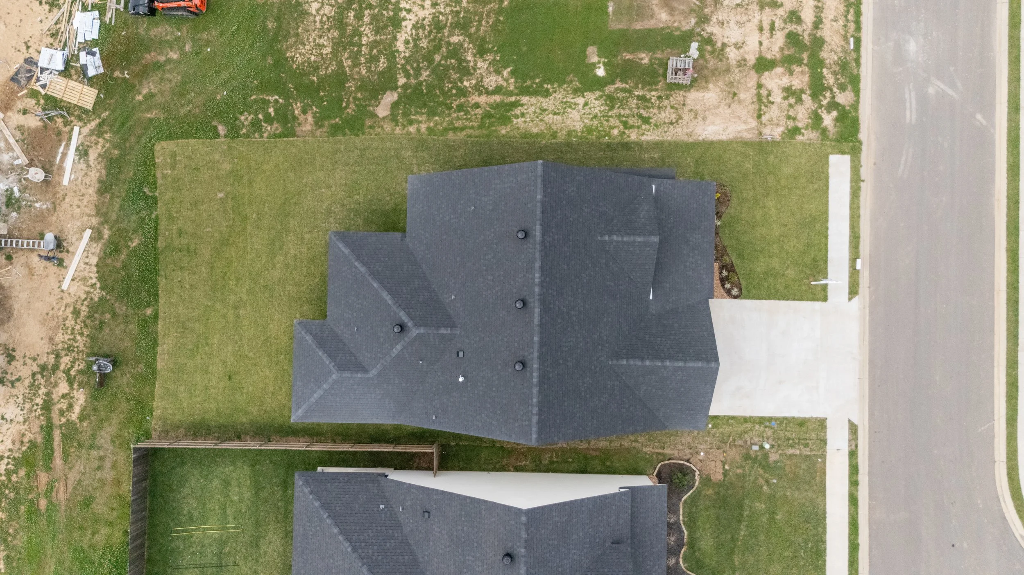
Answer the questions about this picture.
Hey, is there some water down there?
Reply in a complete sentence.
No, there is no water in the image.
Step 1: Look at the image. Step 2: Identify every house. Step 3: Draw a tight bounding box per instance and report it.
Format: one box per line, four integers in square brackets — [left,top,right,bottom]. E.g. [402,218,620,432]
[292,464,667,575]
[292,161,720,447]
